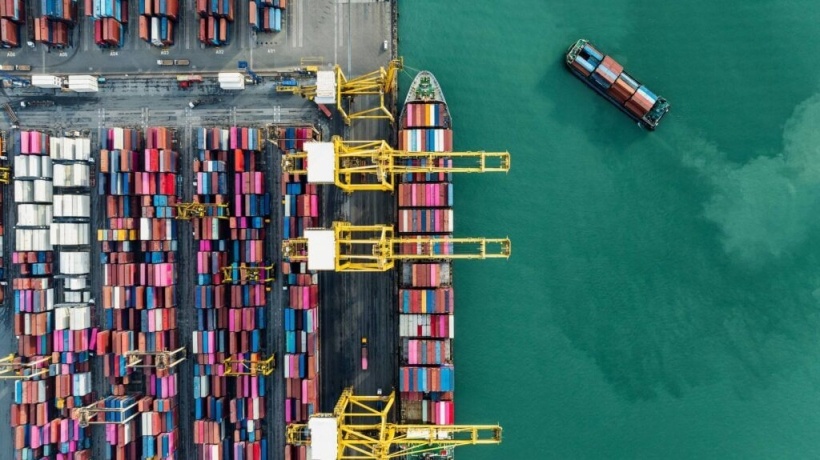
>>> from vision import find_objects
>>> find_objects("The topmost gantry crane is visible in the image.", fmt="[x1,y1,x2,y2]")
[278,46,401,133]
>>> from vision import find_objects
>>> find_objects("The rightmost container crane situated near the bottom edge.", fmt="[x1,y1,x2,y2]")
[287,385,502,460]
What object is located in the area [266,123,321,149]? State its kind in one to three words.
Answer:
container crane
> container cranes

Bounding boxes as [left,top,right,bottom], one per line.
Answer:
[0,167,22,186]
[126,344,188,368]
[266,123,321,149]
[223,262,279,282]
[283,221,511,272]
[226,351,279,376]
[283,136,511,197]
[179,203,236,220]
[278,46,401,133]
[0,355,44,380]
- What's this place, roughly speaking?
port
